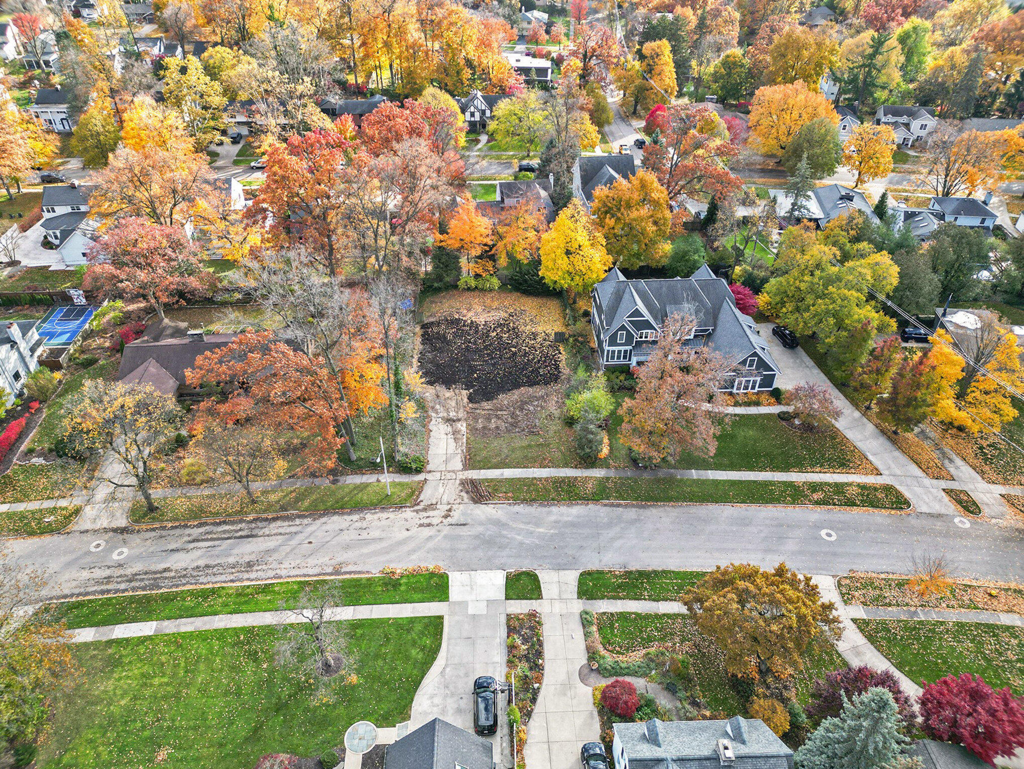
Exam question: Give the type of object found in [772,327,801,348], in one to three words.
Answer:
car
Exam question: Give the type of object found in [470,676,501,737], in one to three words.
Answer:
car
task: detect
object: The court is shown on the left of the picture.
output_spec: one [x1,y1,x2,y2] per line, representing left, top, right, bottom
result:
[42,303,100,351]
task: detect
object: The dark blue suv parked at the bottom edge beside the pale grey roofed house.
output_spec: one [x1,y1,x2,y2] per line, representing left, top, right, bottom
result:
[582,738,614,769]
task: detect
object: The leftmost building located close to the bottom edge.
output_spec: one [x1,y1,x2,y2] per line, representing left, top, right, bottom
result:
[394,715,497,769]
